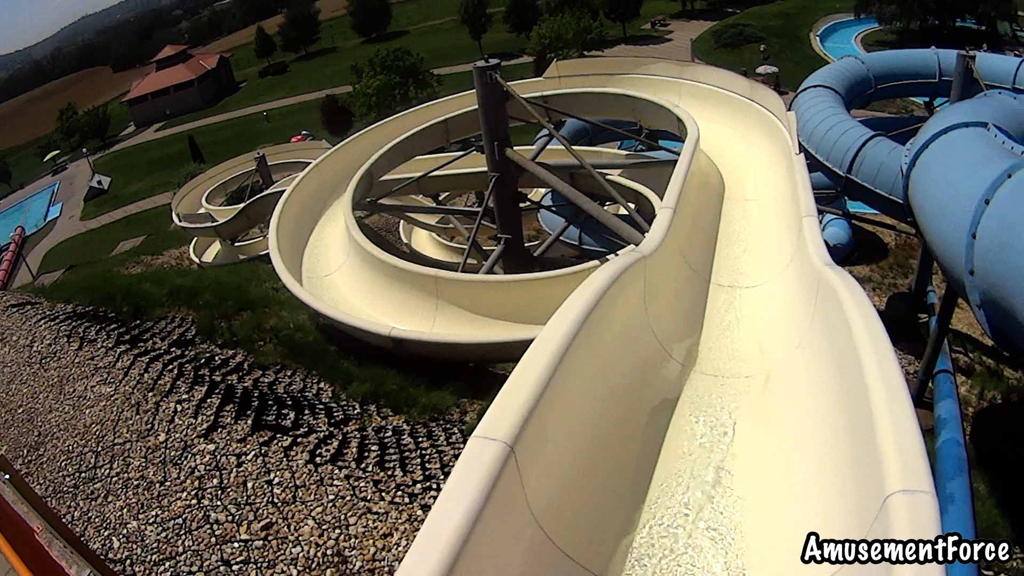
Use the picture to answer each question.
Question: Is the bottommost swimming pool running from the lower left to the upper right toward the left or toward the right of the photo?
left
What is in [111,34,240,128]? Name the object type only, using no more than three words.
building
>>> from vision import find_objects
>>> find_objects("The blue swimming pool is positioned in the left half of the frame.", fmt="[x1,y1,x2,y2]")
[0,179,62,245]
